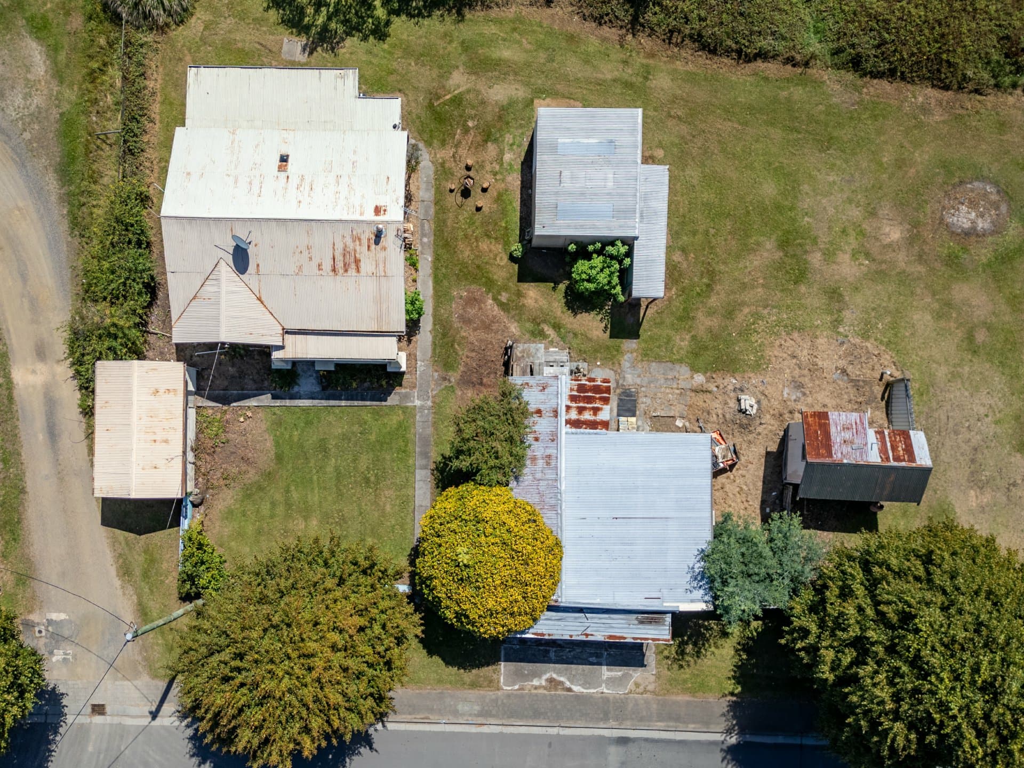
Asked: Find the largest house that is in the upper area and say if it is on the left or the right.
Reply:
left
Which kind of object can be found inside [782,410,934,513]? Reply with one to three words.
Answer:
shed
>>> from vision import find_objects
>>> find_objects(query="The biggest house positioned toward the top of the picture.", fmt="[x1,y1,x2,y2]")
[144,63,408,367]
